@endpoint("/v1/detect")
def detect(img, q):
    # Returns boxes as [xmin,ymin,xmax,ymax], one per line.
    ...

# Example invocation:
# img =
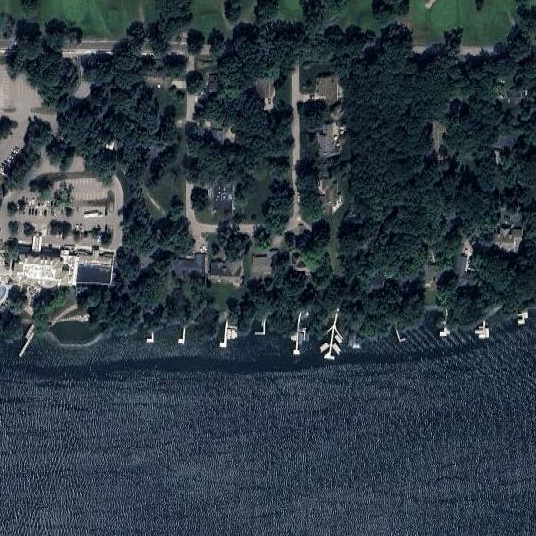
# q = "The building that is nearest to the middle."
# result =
[253,256,272,275]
